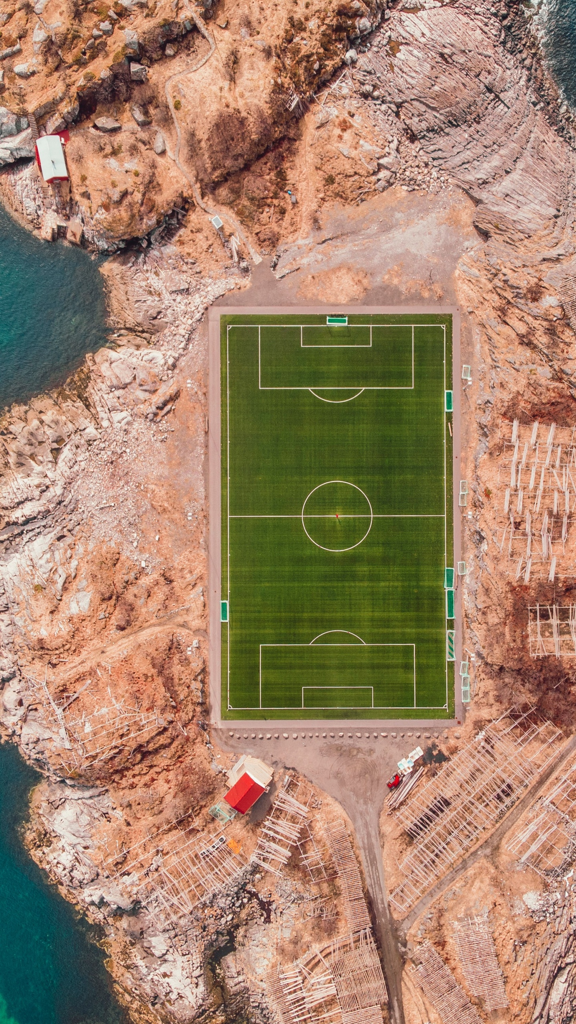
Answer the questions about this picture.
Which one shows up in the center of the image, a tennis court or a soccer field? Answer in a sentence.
There is a soccer field in the center of the image.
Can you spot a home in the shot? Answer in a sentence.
Yes, the image includes a home.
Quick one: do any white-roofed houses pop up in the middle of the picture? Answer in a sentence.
No, looking in the middle of the picture, there is no white-roofed house.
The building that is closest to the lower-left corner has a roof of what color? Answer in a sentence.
The roof of the building that is closest to the lower-left corner is red.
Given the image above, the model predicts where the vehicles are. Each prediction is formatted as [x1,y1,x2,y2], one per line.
[386,773,401,788]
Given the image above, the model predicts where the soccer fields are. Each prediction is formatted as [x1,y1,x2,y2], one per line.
[209,306,462,728]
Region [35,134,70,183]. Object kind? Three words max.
house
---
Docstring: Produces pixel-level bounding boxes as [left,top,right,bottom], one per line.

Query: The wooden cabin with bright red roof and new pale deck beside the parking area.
[224,754,275,814]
